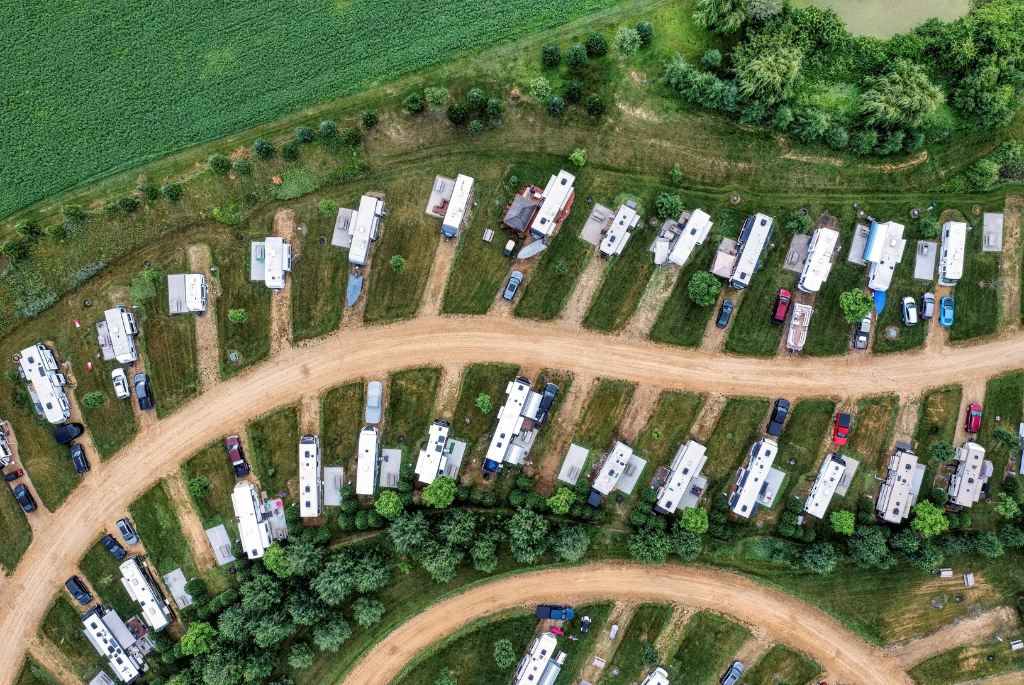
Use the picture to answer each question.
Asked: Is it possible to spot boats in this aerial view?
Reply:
Yes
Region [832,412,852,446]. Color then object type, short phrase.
red vehicle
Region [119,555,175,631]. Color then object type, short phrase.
white camper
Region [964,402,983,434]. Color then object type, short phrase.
red car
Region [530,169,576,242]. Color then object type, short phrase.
white camper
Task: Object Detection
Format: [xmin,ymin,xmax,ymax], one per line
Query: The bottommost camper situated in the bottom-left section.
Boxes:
[83,609,145,685]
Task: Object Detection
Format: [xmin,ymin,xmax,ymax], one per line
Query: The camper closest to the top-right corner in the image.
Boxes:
[938,222,966,281]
